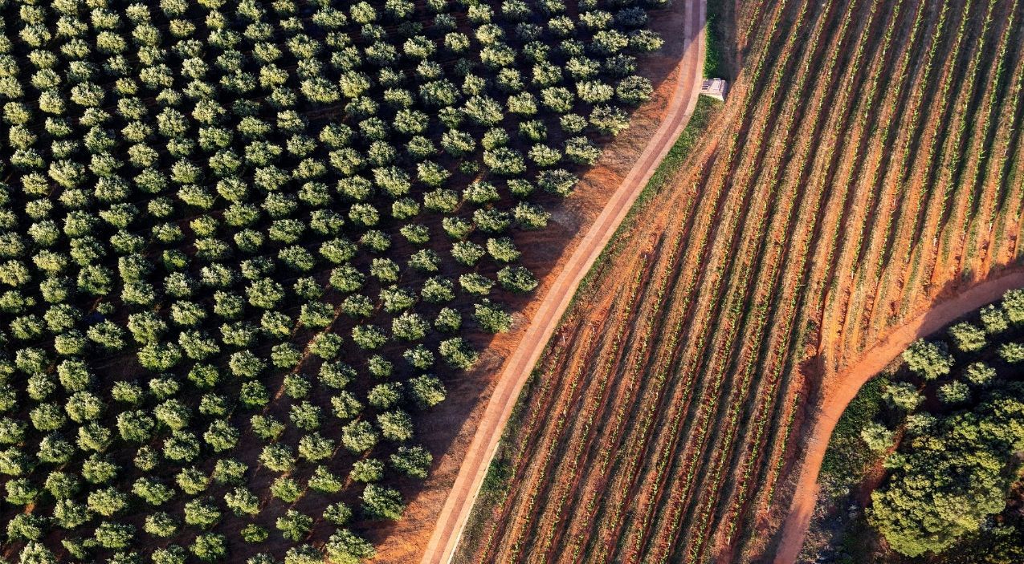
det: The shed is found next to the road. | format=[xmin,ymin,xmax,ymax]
[702,77,728,101]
